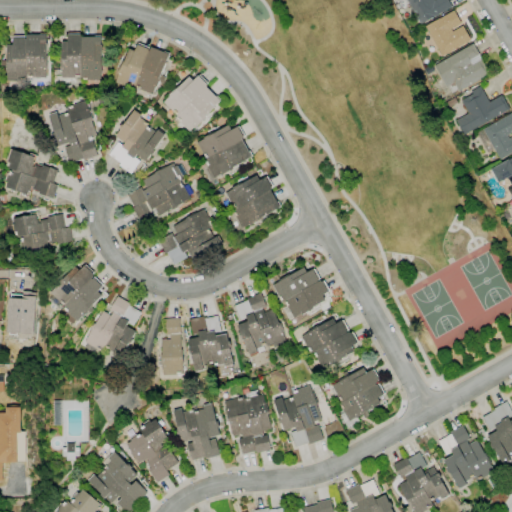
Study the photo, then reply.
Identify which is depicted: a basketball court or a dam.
basketball court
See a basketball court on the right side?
Yes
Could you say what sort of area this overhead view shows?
residential area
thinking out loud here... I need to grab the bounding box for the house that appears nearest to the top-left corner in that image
[6,33,46,80]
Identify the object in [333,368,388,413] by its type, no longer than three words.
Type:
house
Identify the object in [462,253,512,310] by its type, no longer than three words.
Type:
basketball court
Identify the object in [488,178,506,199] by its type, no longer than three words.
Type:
swimming pool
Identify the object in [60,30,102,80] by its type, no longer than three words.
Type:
house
